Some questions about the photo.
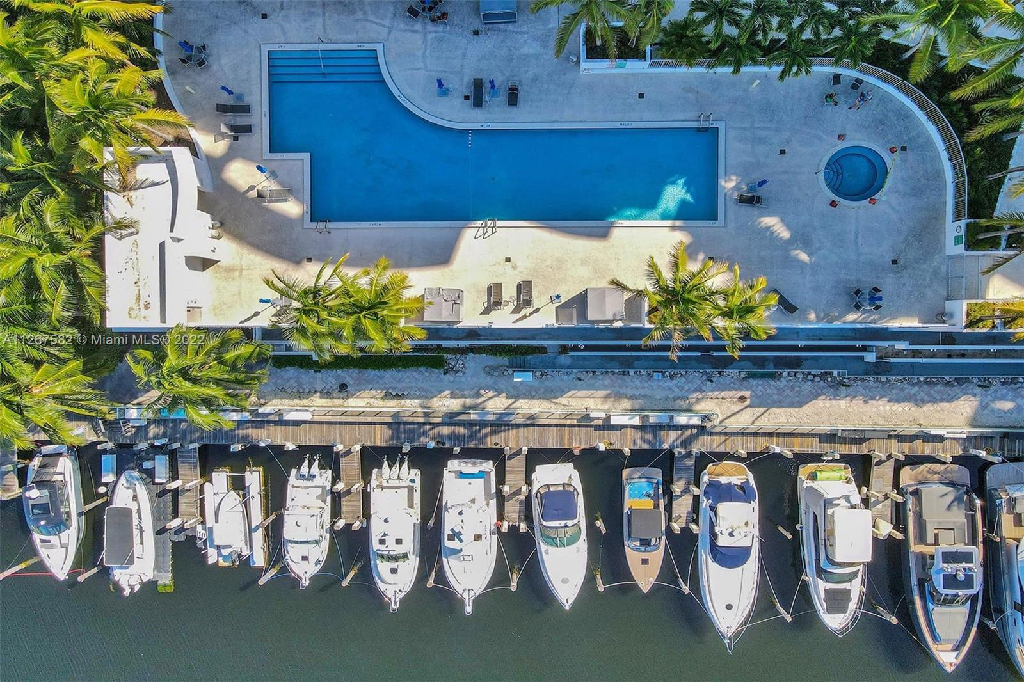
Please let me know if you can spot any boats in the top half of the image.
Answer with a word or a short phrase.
No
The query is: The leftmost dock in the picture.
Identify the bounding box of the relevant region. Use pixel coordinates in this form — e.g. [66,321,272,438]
[0,440,22,500]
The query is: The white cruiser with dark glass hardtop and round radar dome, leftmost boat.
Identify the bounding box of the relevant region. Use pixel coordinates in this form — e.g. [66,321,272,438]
[19,446,87,581]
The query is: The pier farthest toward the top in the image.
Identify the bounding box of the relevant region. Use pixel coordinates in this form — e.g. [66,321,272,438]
[1,421,1024,457]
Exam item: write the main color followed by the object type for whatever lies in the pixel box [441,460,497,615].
white boat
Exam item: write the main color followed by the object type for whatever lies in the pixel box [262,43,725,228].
blue swimming pool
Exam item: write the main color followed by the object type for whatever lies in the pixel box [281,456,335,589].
white boat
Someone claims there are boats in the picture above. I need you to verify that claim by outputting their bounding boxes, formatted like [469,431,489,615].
[19,446,87,581]
[441,460,497,615]
[281,456,335,589]
[622,467,668,593]
[697,461,763,656]
[793,463,879,641]
[367,456,422,613]
[895,464,991,673]
[97,470,159,595]
[218,489,250,568]
[531,463,588,610]
[976,461,1024,682]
